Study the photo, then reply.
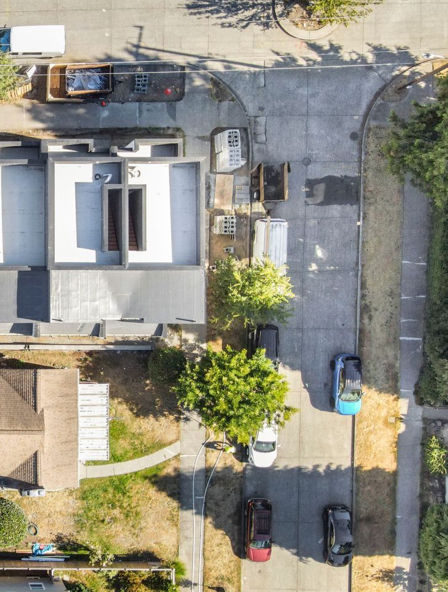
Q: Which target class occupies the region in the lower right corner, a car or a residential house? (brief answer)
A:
car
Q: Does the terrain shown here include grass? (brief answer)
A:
Yes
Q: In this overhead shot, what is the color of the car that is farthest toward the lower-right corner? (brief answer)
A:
black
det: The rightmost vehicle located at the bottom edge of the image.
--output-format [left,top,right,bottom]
[321,504,355,566]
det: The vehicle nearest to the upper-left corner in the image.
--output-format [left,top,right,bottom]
[0,22,68,60]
